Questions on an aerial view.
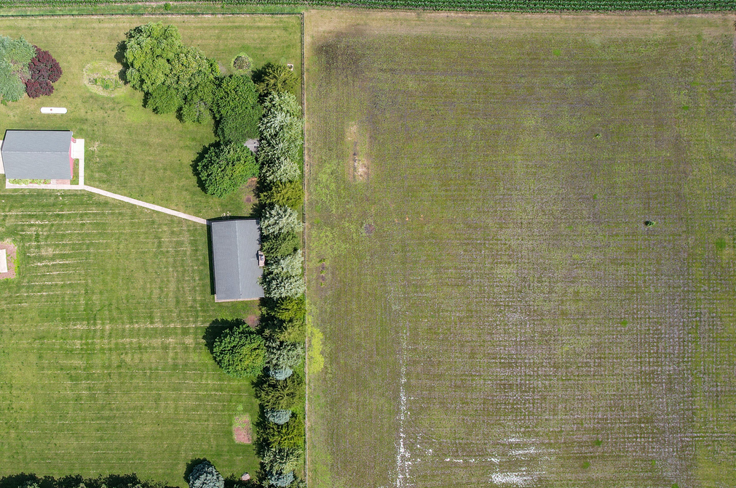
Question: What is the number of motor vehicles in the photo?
0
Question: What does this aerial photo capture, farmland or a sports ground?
farmland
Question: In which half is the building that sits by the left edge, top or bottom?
top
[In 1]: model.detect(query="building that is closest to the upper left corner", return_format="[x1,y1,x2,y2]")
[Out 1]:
[1,130,74,180]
